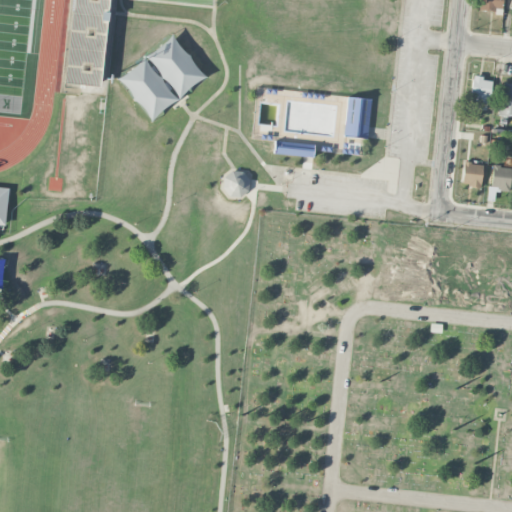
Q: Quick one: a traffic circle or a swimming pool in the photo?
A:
swimming pool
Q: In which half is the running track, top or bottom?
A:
top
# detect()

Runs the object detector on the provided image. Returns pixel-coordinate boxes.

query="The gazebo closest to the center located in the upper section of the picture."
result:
[220,168,253,200]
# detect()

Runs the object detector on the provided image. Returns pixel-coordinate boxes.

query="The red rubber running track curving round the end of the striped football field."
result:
[0,0,69,172]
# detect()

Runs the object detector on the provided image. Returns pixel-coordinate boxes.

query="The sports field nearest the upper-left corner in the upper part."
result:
[0,0,44,118]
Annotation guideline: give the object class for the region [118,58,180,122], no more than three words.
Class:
building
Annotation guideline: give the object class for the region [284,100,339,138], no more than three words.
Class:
swimming pool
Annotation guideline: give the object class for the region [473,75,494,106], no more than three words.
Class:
house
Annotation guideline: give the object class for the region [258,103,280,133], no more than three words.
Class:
swimming pool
